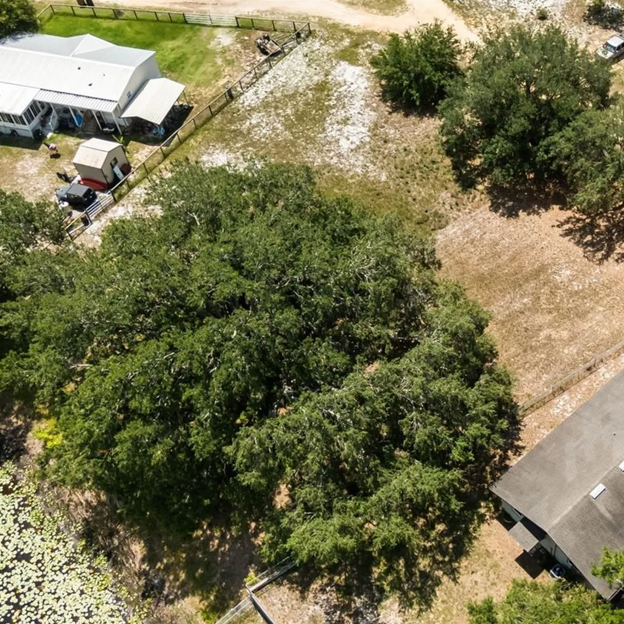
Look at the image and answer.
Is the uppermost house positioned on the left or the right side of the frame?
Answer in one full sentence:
You can find the uppermost house on the left side of the picture.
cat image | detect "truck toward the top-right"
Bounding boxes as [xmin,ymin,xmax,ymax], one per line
[597,24,624,56]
